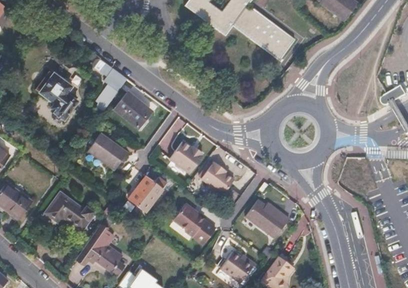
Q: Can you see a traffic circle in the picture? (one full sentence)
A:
Yes, there's a traffic circle here.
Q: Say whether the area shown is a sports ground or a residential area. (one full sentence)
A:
What you see here is a residential area.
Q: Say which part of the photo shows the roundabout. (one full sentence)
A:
You can find the roundabout in the right area of the picture.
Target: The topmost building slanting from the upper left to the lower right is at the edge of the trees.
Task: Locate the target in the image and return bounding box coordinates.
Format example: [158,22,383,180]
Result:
[233,8,296,62]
